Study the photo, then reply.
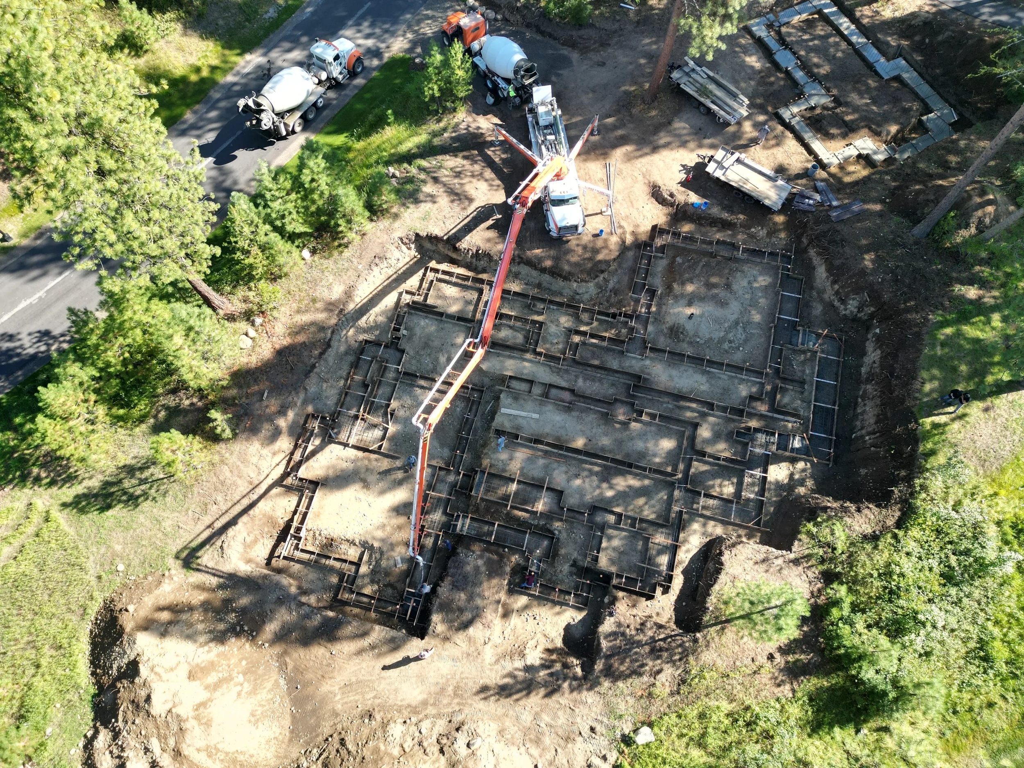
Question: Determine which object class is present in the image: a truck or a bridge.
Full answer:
I can see a truck in this picture.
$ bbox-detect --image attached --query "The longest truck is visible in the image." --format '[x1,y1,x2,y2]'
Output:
[404,64,615,584]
